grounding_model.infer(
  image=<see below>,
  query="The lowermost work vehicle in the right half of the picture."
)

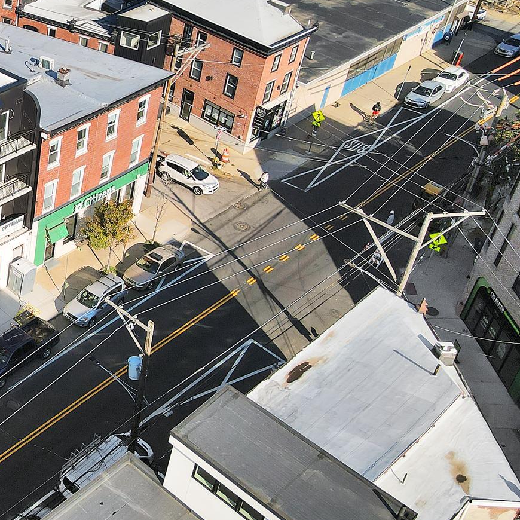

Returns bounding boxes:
[414,169,454,212]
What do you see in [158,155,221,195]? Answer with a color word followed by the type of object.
white car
